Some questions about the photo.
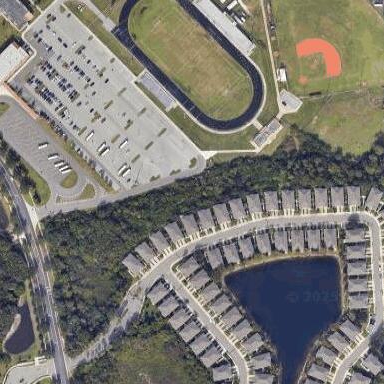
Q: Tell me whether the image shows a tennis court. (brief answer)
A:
No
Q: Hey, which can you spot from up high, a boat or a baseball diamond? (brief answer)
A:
baseball diamond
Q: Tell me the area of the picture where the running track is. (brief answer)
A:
top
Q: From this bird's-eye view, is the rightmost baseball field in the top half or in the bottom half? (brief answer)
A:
top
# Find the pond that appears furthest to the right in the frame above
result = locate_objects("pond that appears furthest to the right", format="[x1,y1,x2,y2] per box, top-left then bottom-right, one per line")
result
[223,255,342,384]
